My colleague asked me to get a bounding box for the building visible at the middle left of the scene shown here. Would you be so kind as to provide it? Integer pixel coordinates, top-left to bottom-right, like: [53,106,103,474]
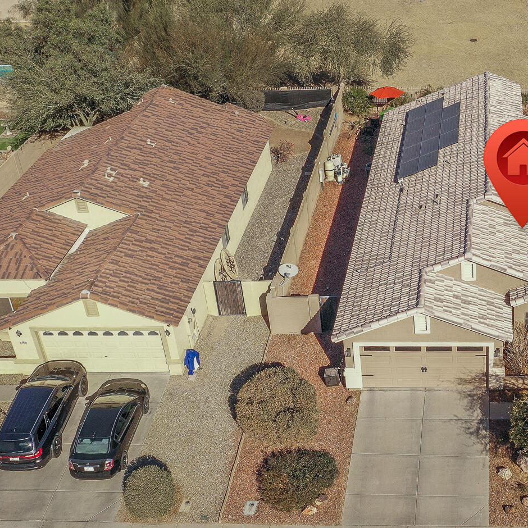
[0,81,274,376]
